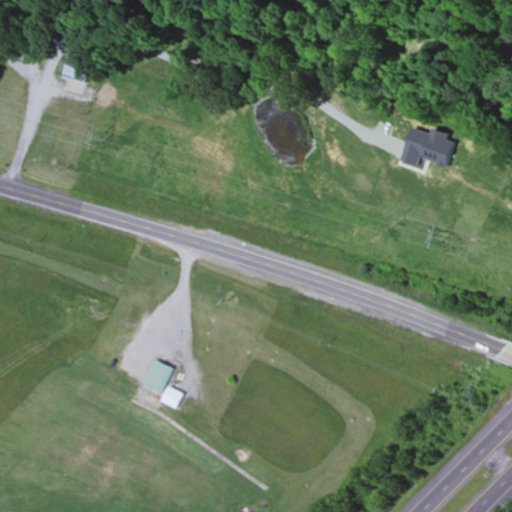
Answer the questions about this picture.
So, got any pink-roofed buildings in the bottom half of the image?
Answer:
No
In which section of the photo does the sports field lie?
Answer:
bottom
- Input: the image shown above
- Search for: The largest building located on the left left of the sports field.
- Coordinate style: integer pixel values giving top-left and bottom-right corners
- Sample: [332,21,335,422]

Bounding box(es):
[146,360,175,392]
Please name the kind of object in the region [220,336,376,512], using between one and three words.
sports field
